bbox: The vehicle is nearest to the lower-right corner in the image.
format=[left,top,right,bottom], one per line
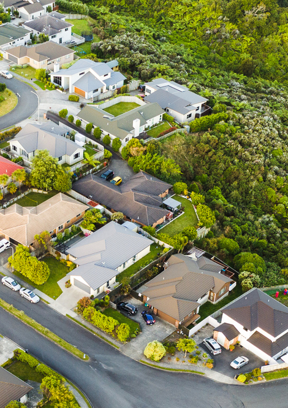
[225,354,255,371]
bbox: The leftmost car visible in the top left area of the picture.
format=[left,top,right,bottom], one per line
[0,67,15,80]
